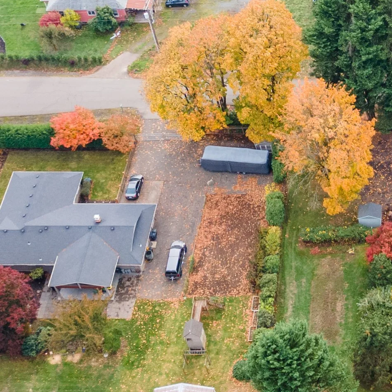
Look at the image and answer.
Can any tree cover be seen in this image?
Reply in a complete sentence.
Yes, the picture does contain tree cover.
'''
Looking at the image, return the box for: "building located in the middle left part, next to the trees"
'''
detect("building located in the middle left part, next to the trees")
[0,168,158,298]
